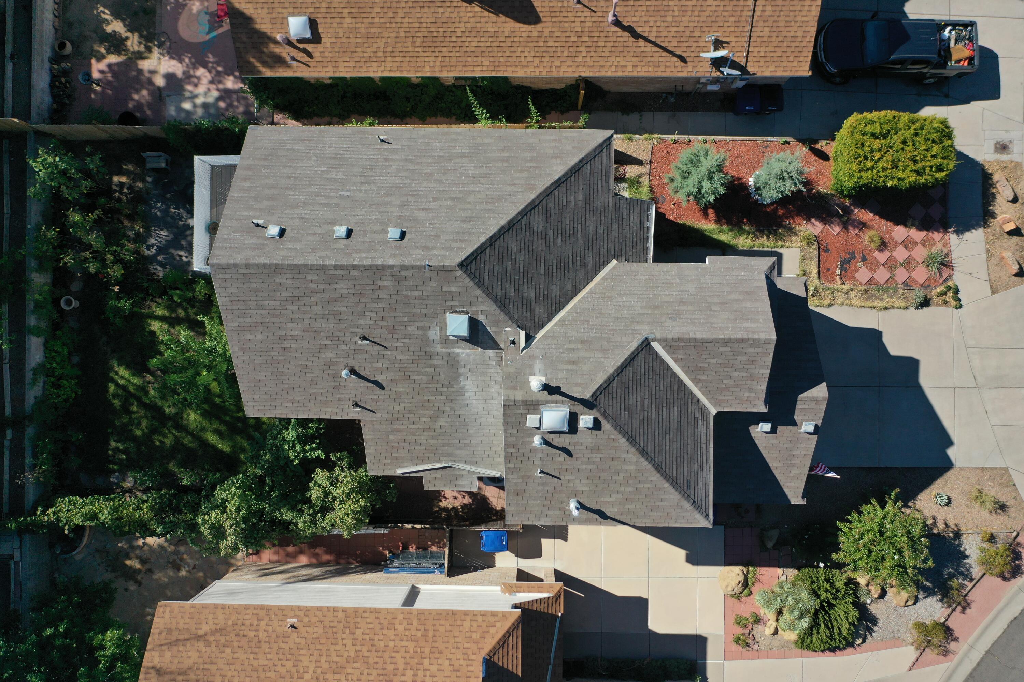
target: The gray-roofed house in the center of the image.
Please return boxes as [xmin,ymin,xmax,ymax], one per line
[192,125,828,530]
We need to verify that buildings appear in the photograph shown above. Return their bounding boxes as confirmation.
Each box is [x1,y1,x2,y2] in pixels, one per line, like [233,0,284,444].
[227,0,825,98]
[137,563,565,682]
[192,125,828,530]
